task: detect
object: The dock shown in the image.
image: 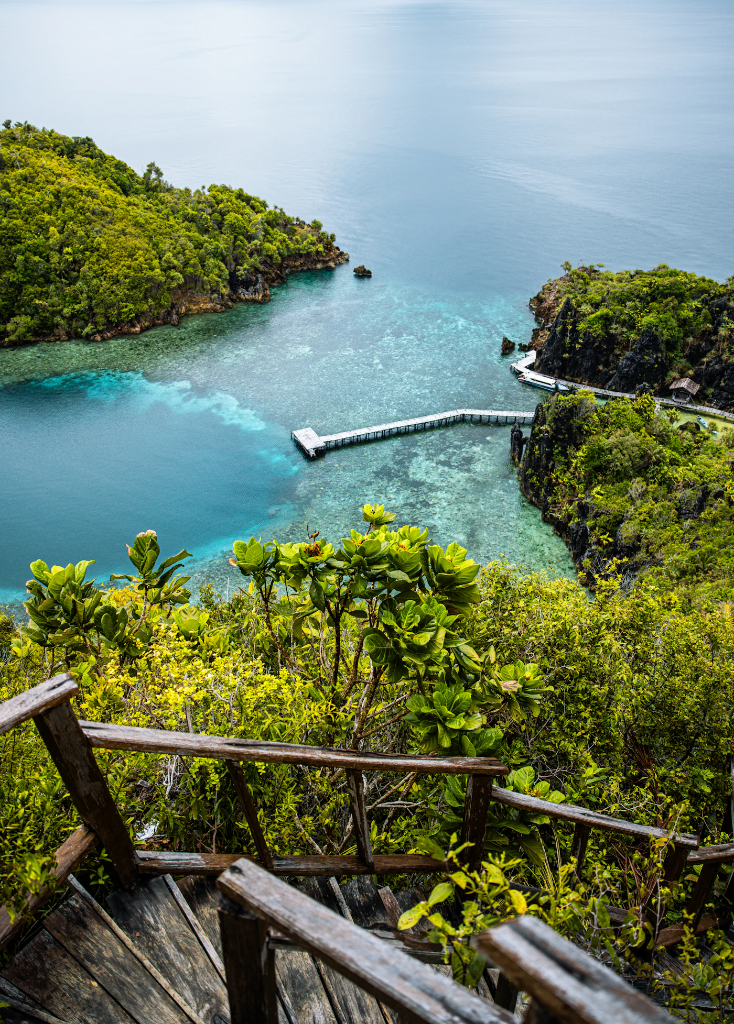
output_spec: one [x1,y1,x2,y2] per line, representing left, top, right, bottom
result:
[292,410,537,458]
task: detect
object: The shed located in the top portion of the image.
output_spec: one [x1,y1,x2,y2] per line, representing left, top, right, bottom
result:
[667,378,700,408]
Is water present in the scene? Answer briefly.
Yes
